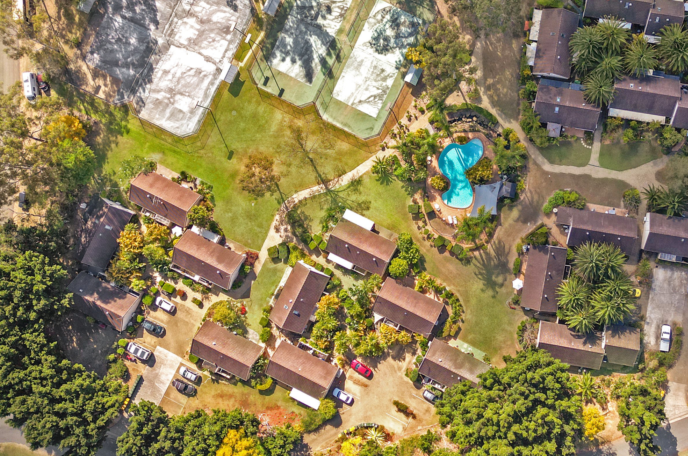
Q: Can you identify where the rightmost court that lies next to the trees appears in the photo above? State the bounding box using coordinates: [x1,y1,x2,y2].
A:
[317,0,438,139]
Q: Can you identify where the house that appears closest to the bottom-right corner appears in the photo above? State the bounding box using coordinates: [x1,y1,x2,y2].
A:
[602,325,640,367]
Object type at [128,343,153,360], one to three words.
car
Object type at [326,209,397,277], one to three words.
house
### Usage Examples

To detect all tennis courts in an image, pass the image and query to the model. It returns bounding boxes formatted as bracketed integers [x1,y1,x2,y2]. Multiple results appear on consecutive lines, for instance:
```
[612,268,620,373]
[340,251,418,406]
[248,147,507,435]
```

[135,0,254,137]
[83,0,181,102]
[247,0,367,107]
[317,0,438,139]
